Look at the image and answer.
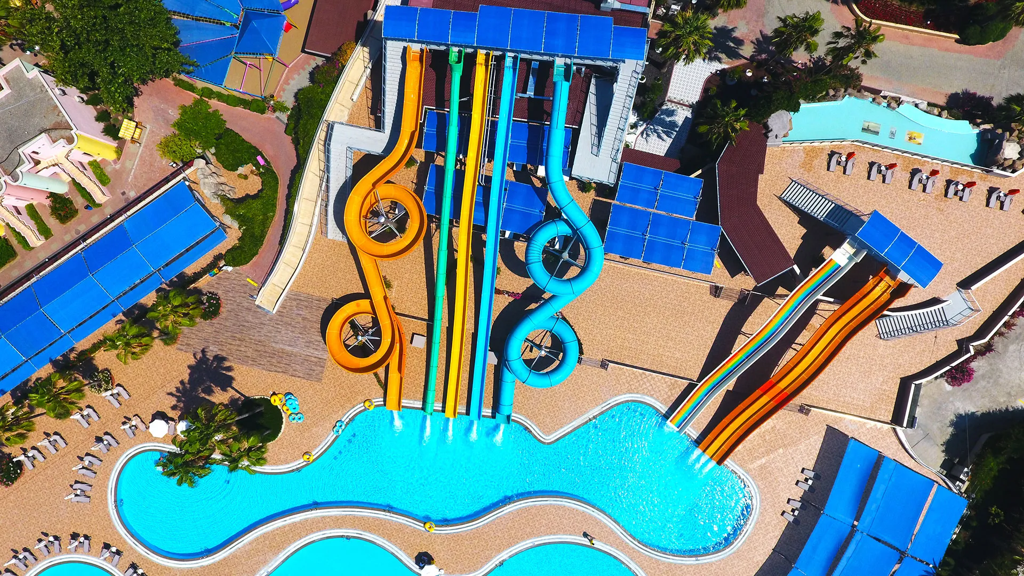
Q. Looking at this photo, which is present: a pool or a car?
pool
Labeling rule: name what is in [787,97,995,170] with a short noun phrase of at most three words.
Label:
swimming pool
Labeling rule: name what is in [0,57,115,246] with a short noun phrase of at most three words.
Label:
building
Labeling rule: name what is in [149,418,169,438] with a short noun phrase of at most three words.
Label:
umbrella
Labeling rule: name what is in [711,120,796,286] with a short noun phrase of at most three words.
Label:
building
